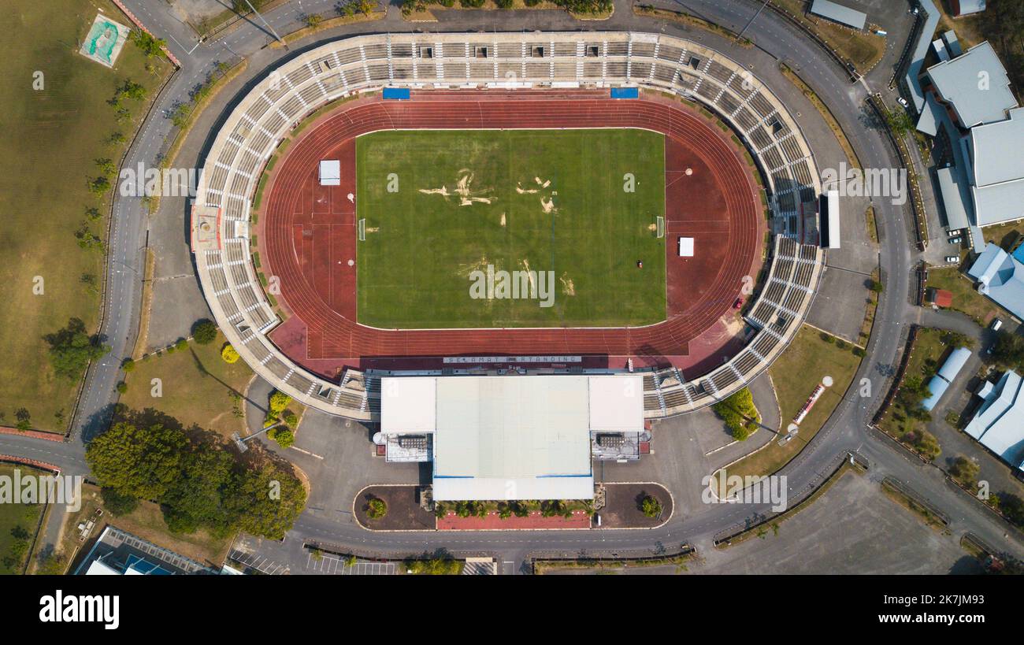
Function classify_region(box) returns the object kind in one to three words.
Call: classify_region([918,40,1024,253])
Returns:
building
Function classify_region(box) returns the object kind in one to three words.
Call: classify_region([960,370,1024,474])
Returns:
building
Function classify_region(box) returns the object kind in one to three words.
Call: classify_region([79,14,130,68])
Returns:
sports court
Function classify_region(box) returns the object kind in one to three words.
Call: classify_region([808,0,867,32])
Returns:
shed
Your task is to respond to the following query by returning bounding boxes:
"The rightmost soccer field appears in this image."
[356,129,668,328]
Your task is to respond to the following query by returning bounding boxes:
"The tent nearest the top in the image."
[319,160,341,186]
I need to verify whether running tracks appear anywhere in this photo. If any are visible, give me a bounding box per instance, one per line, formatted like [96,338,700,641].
[265,91,757,359]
